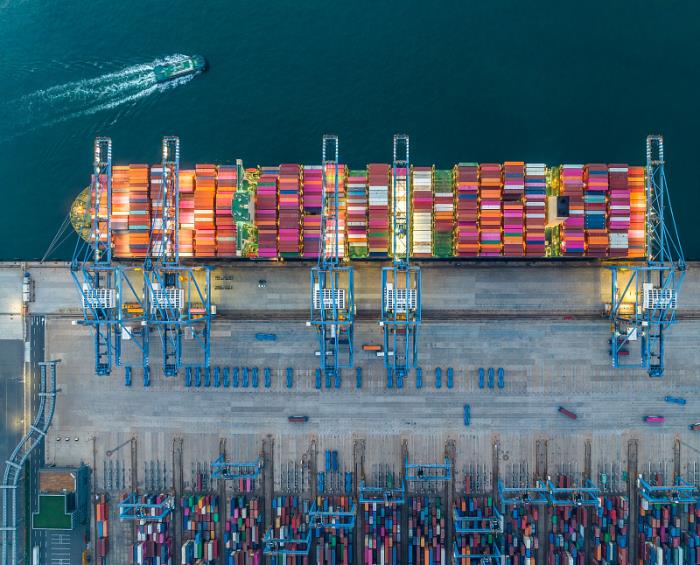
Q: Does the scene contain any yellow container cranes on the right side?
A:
No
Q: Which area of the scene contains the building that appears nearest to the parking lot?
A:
bottom left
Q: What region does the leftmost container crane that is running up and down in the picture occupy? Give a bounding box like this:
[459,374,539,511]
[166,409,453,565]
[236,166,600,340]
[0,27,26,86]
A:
[70,128,163,376]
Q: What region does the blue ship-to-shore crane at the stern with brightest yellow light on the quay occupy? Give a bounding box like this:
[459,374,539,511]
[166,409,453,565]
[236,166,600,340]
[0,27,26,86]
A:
[597,128,691,376]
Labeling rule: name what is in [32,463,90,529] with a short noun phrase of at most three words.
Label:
building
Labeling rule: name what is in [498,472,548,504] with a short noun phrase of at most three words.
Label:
crane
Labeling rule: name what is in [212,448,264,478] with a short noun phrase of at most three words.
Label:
crane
